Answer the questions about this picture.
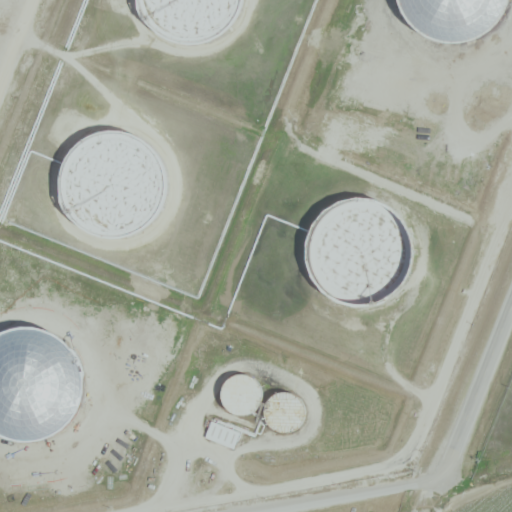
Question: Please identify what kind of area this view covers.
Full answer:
This looks like an industrial area.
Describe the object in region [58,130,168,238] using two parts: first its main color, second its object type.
white storage tank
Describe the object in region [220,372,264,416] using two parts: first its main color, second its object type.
white storage tank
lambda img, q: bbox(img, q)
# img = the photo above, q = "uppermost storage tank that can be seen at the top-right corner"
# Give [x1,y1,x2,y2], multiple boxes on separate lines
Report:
[396,0,508,46]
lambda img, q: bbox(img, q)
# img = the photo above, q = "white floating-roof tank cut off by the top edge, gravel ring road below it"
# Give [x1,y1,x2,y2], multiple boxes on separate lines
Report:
[136,0,244,46]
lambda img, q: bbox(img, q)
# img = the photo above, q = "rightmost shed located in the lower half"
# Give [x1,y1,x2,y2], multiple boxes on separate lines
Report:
[205,422,241,450]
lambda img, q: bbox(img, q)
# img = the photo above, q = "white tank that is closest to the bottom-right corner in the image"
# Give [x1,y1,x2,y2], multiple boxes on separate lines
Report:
[263,390,308,434]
